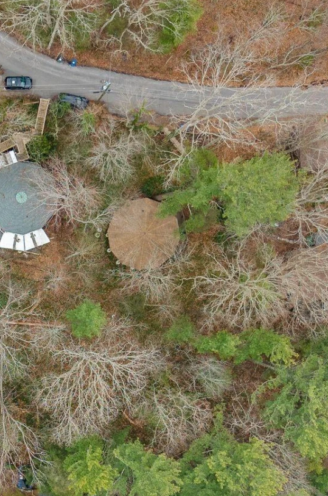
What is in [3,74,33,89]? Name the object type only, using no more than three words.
car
